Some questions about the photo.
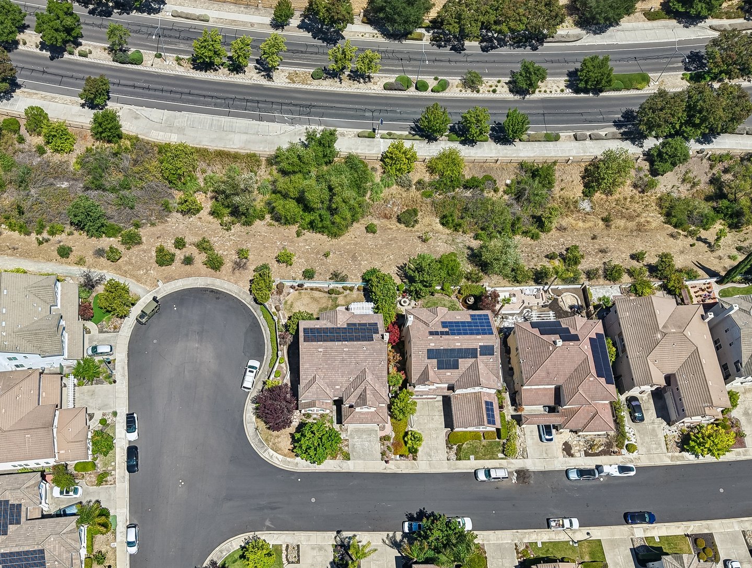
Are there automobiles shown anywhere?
Yes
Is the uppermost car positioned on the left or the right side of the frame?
left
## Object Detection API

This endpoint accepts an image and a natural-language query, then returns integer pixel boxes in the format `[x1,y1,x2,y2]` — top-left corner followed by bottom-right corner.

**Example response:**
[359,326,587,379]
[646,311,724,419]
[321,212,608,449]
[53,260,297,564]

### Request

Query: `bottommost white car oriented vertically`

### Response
[124,522,140,555]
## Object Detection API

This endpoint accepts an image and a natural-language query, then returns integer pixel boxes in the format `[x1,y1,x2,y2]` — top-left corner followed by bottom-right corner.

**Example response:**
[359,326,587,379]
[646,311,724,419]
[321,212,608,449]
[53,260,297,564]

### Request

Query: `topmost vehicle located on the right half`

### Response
[625,395,645,424]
